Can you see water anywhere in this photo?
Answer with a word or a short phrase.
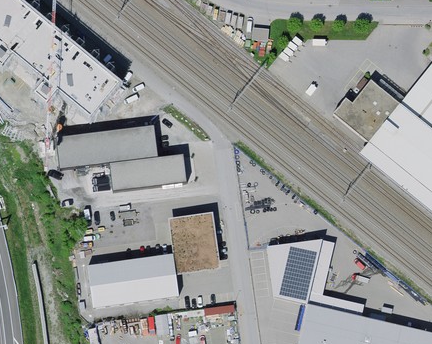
No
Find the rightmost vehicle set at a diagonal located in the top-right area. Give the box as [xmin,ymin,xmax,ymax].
[354,77,370,94]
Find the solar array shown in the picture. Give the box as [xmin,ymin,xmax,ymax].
[280,248,316,300]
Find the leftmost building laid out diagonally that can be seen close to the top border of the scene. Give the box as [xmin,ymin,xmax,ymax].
[0,0,122,114]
